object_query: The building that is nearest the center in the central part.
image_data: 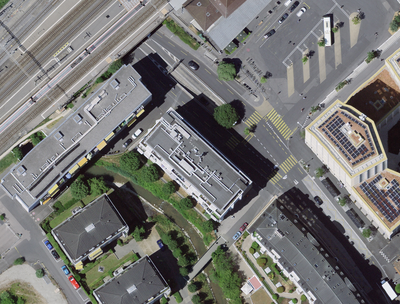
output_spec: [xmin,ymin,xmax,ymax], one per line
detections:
[143,107,252,219]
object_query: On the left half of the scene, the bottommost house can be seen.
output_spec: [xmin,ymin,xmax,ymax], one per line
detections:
[92,255,170,304]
